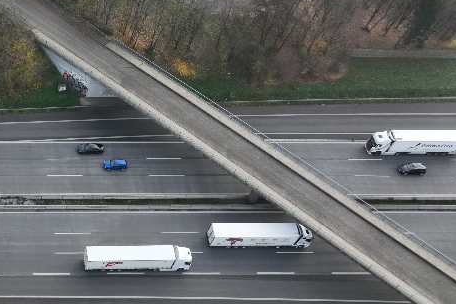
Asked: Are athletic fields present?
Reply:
No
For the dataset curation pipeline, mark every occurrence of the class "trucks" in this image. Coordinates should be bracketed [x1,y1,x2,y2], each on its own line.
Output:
[364,129,456,155]
[206,223,317,250]
[83,246,193,273]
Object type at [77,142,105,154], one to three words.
vehicle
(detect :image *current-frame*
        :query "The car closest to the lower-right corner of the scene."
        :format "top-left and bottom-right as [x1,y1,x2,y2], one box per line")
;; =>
[400,162,428,175]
